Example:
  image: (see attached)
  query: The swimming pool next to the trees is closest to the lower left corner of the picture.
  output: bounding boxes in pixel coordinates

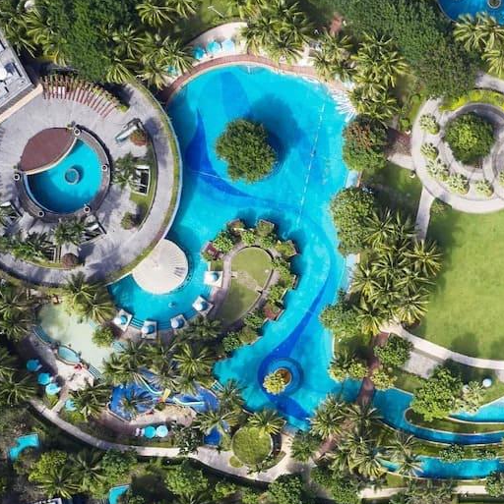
[7,431,43,462]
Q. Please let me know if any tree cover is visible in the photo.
Yes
